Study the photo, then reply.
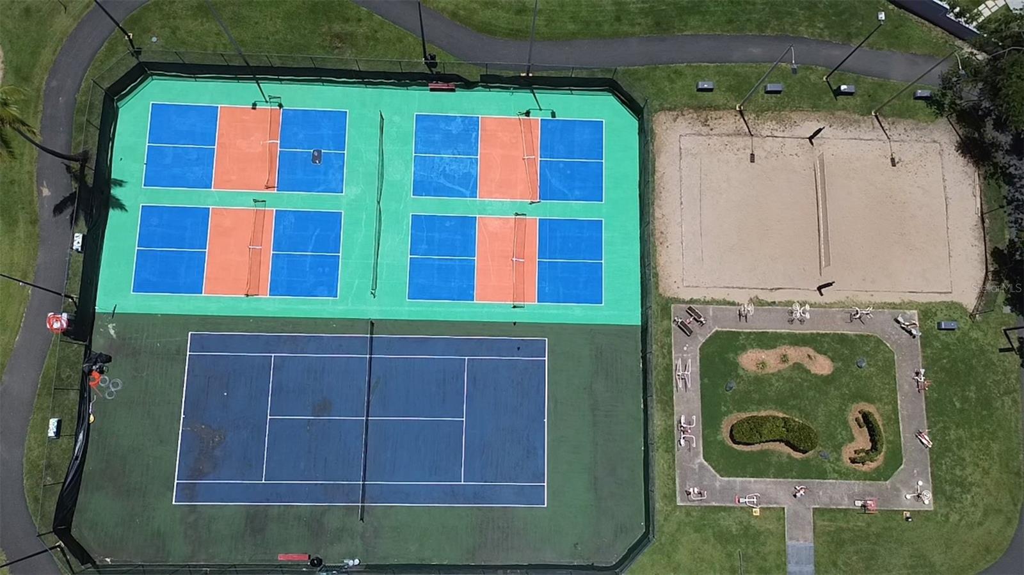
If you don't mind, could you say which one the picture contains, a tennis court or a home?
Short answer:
tennis court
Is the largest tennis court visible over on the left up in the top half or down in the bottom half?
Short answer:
bottom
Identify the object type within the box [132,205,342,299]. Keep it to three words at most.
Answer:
sports court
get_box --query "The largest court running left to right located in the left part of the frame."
[67,312,644,564]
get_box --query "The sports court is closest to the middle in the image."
[407,213,604,306]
